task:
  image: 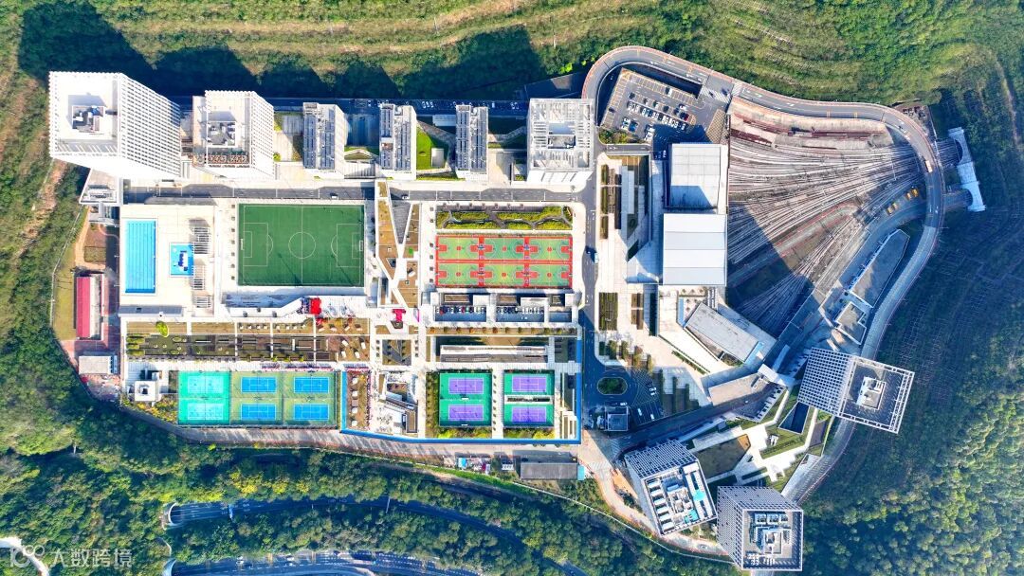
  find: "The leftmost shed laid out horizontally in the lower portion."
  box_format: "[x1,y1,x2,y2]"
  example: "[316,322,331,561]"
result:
[79,356,118,375]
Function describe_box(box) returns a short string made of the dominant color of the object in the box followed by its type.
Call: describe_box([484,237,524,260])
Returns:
green basketball court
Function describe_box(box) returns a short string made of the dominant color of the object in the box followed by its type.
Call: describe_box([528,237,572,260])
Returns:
green basketball court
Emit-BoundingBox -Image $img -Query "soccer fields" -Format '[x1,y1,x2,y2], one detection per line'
[238,204,364,286]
